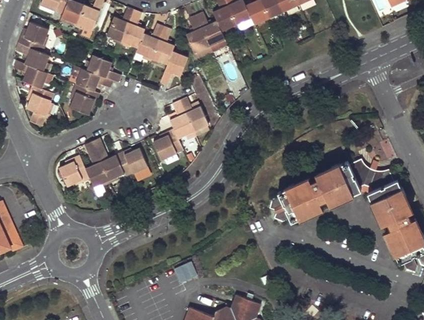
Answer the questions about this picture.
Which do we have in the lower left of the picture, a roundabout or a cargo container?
roundabout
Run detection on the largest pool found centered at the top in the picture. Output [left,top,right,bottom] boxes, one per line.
[222,60,238,82]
